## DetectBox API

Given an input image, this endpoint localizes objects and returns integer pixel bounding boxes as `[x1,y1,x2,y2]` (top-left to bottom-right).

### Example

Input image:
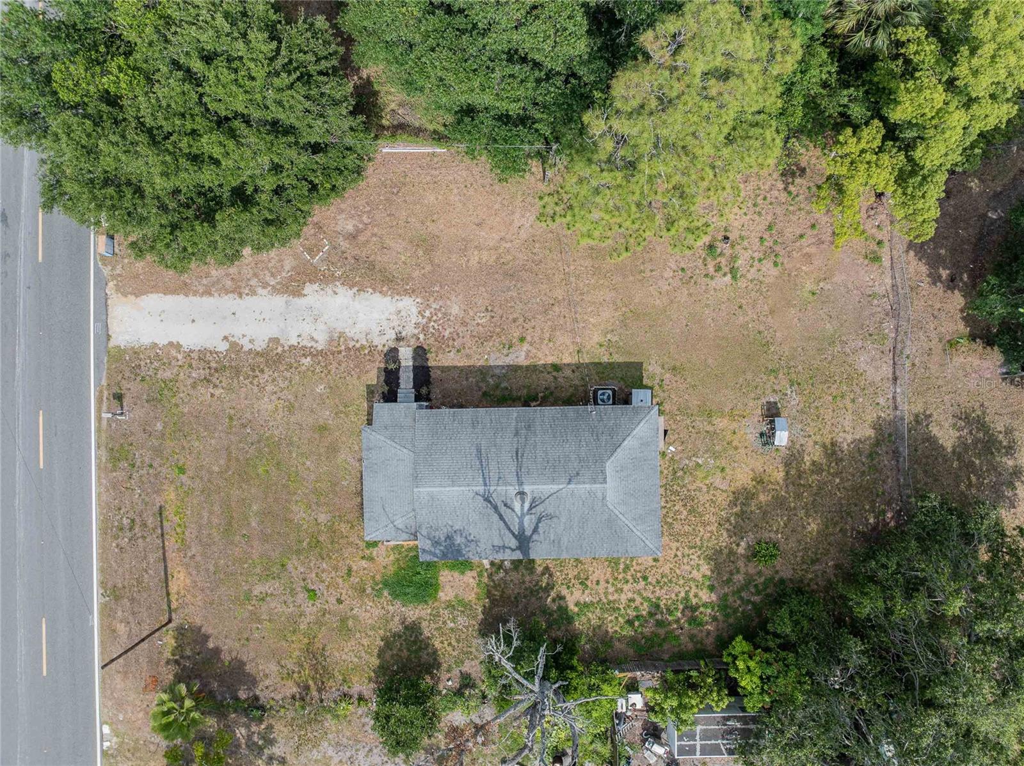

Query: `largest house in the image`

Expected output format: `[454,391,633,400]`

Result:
[360,401,664,562]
